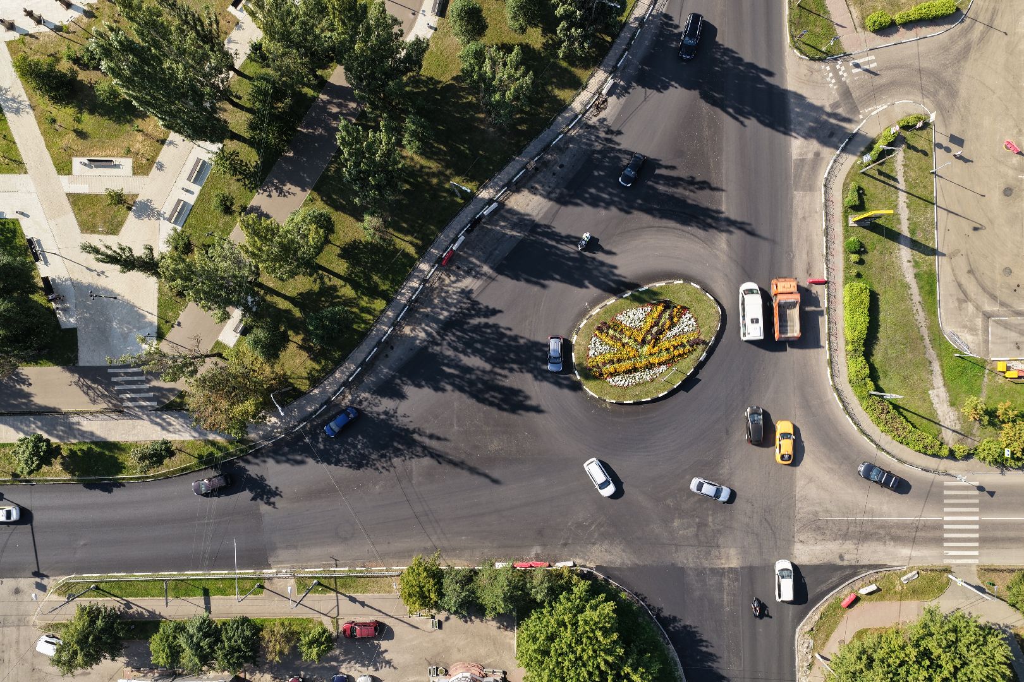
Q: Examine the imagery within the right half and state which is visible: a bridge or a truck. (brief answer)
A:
truck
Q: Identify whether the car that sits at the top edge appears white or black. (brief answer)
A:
black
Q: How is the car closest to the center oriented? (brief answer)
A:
up and down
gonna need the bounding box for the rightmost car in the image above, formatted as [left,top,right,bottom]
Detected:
[855,460,902,490]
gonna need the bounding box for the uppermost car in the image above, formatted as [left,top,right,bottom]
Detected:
[678,13,703,61]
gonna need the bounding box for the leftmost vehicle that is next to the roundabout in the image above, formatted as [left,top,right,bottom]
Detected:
[545,334,565,373]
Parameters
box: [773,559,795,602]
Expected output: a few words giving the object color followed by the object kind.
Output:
white car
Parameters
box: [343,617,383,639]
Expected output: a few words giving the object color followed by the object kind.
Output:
red car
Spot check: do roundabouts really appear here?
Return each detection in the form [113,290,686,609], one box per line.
[573,280,722,402]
